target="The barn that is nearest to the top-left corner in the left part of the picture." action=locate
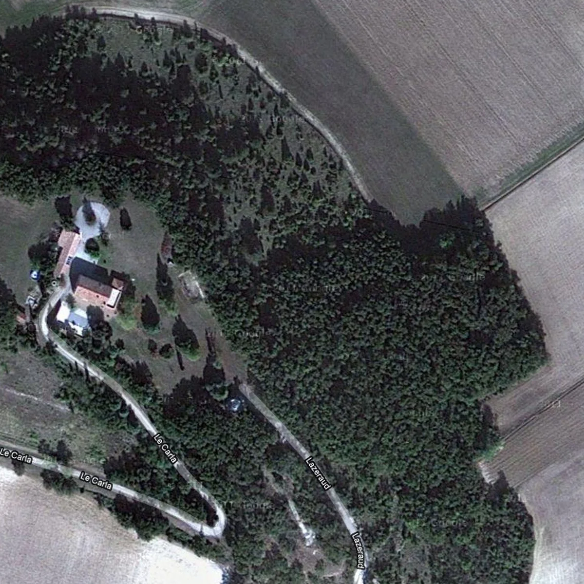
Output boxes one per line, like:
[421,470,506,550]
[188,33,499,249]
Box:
[54,231,82,275]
